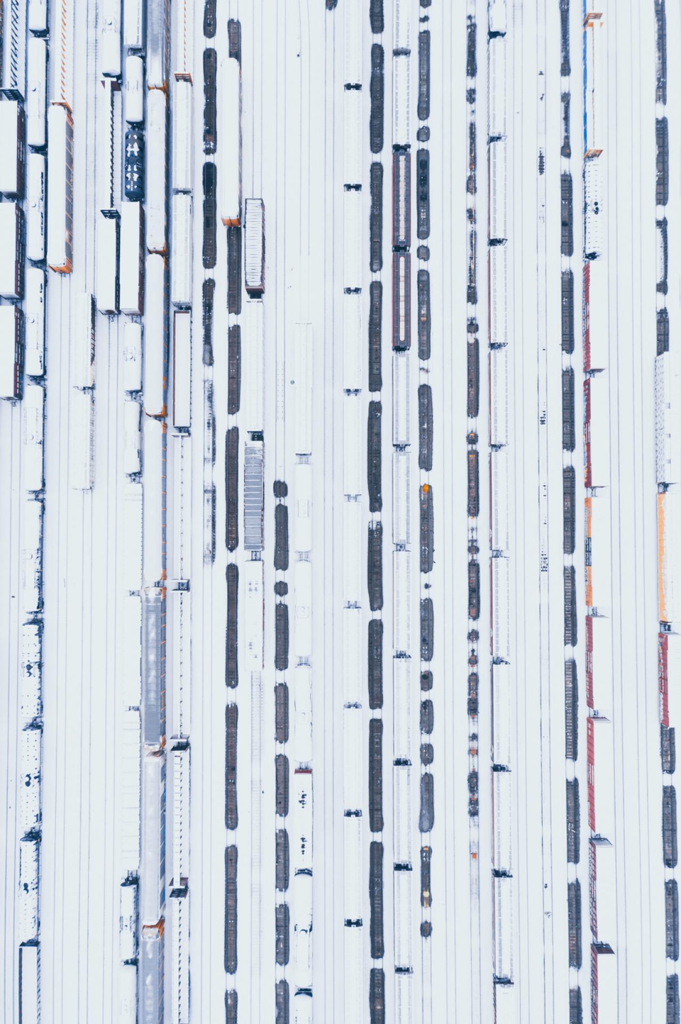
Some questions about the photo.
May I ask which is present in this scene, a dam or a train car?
train car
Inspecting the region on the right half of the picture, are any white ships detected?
No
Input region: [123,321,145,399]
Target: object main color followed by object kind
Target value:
white rail car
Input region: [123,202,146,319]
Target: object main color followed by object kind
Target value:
white rail car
